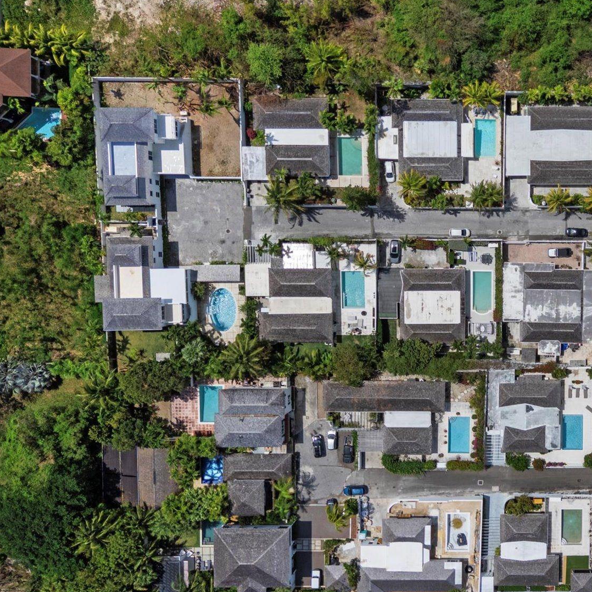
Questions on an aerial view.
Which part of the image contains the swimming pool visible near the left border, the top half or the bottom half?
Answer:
top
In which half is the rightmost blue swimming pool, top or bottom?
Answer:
bottom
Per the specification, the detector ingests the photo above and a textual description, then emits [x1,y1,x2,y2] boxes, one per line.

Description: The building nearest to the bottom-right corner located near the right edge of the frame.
[571,569,592,592]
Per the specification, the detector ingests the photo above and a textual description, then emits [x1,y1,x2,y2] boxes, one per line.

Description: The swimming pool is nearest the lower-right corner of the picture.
[561,509,584,545]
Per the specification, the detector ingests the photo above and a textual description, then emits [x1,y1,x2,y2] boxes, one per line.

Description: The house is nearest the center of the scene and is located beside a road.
[245,258,337,342]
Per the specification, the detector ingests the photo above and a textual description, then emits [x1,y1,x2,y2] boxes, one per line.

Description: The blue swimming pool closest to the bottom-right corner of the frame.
[561,414,584,451]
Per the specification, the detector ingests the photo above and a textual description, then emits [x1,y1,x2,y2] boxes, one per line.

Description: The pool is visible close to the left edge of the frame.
[20,106,61,137]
